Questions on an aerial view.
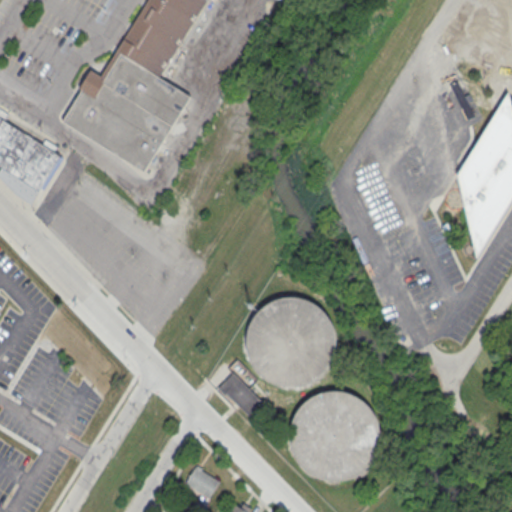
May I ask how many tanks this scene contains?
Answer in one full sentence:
The number of tanks here is 2.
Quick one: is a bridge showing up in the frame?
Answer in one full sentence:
No, the frame has no bridge in it.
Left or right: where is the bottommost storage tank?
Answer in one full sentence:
The bottommost storage tank is on the right side of the image.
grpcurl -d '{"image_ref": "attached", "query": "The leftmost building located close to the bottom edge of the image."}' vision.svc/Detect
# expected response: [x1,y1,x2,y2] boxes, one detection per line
[187,467,220,504]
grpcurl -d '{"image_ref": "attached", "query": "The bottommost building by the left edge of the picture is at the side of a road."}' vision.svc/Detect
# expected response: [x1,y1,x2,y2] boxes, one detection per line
[0,116,63,189]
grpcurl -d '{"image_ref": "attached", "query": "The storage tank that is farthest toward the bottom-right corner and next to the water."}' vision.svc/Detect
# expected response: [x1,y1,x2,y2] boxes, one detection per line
[286,388,383,486]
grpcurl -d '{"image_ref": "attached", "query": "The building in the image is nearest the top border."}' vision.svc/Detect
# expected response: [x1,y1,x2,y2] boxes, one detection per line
[80,0,206,96]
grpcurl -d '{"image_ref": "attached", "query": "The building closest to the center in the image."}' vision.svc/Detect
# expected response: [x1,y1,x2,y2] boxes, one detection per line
[218,372,261,416]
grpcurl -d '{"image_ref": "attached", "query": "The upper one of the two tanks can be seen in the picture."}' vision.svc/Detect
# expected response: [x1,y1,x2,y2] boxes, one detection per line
[244,294,339,390]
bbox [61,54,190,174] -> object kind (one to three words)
building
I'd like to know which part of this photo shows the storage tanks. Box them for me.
[244,294,339,390]
[286,388,383,486]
